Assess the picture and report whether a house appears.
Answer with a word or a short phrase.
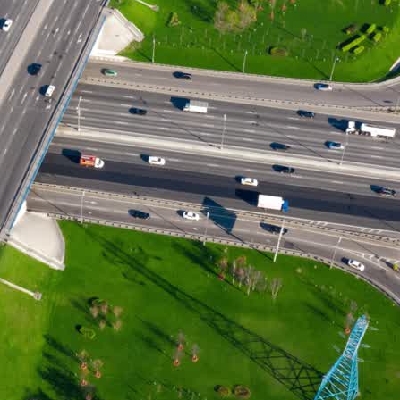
No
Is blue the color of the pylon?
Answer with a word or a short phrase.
Yes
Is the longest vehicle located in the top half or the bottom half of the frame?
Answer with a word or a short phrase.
top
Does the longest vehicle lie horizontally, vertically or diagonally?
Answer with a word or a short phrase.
horizontally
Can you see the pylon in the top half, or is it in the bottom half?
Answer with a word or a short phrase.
bottom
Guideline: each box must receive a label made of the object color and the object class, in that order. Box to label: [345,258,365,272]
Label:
white vehicle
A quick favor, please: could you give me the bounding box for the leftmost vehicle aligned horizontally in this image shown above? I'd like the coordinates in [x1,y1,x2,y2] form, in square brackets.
[79,152,105,166]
